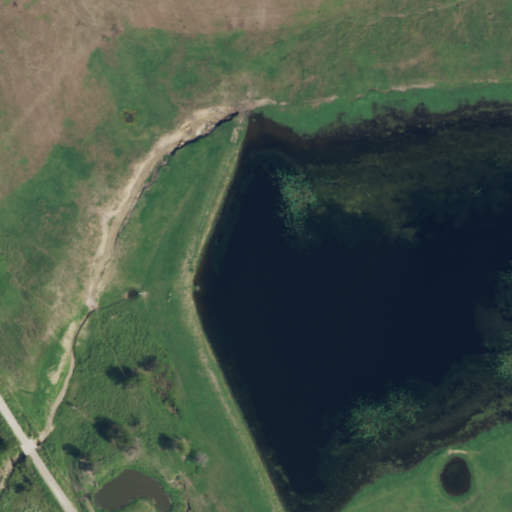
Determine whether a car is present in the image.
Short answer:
No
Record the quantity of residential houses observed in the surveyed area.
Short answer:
0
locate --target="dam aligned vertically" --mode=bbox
[148,112,290,512]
